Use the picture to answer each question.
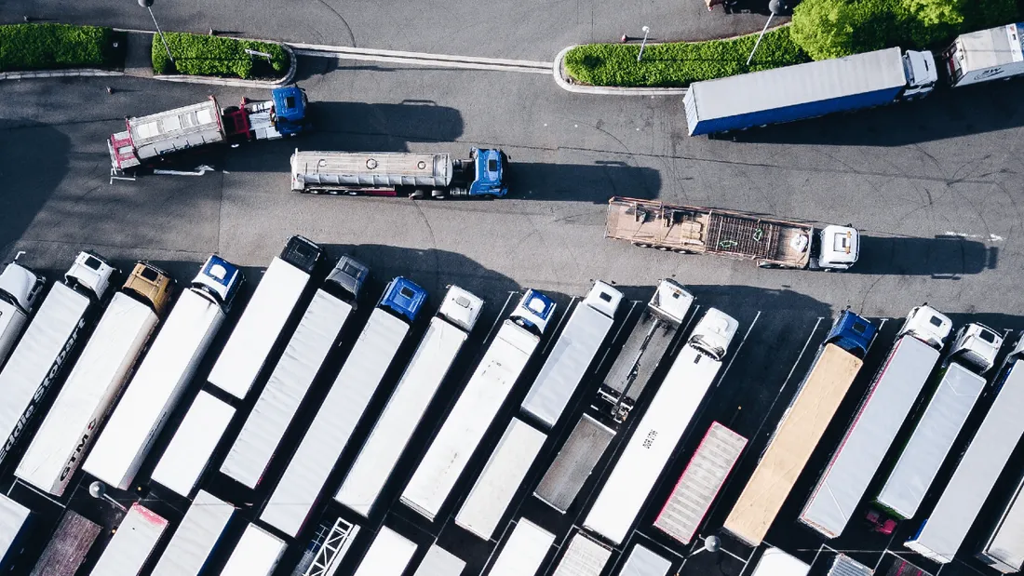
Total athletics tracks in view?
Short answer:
0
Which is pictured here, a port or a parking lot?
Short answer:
parking lot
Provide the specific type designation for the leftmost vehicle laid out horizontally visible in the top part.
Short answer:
truck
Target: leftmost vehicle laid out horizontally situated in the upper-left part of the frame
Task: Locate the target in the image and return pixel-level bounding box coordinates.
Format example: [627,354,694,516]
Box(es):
[103,83,316,189]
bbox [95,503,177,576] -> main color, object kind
white trailer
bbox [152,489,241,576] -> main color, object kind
white trailer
